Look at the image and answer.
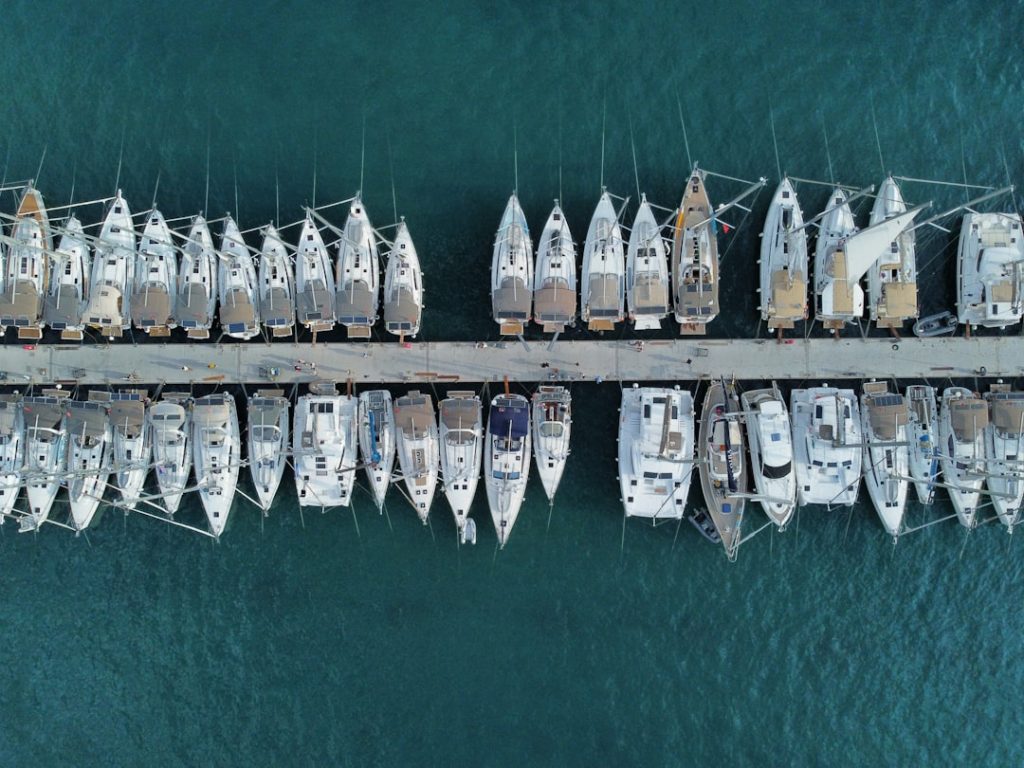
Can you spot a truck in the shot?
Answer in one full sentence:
No, the photo shows no truck.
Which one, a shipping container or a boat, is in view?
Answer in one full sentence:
The one in the frame is a boat.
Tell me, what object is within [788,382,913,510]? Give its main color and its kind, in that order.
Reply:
white boat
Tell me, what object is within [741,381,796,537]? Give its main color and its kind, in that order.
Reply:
white boat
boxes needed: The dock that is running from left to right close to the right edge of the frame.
[808,336,1002,380]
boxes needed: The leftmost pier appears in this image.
[0,343,49,386]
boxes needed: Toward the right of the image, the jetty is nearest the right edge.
[1000,336,1024,378]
